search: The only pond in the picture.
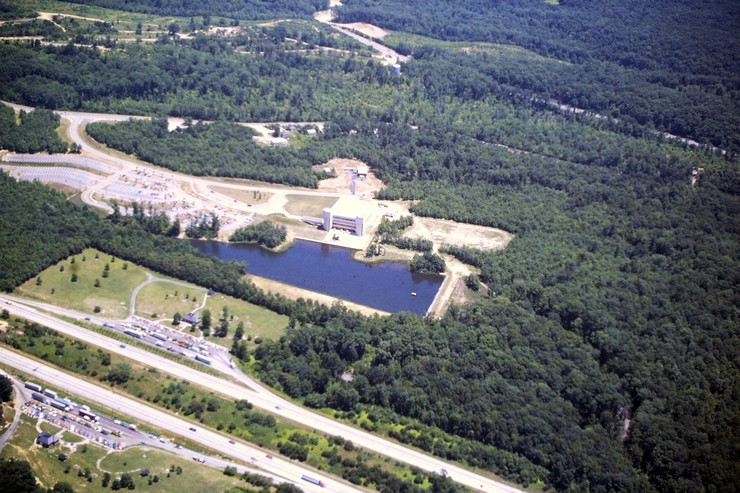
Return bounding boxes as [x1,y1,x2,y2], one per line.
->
[184,239,442,316]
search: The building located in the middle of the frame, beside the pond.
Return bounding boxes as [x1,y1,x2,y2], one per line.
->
[323,198,378,236]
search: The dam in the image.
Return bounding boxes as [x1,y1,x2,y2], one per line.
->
[426,273,462,318]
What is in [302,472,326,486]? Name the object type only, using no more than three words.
vehicle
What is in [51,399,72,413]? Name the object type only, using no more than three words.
vehicle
